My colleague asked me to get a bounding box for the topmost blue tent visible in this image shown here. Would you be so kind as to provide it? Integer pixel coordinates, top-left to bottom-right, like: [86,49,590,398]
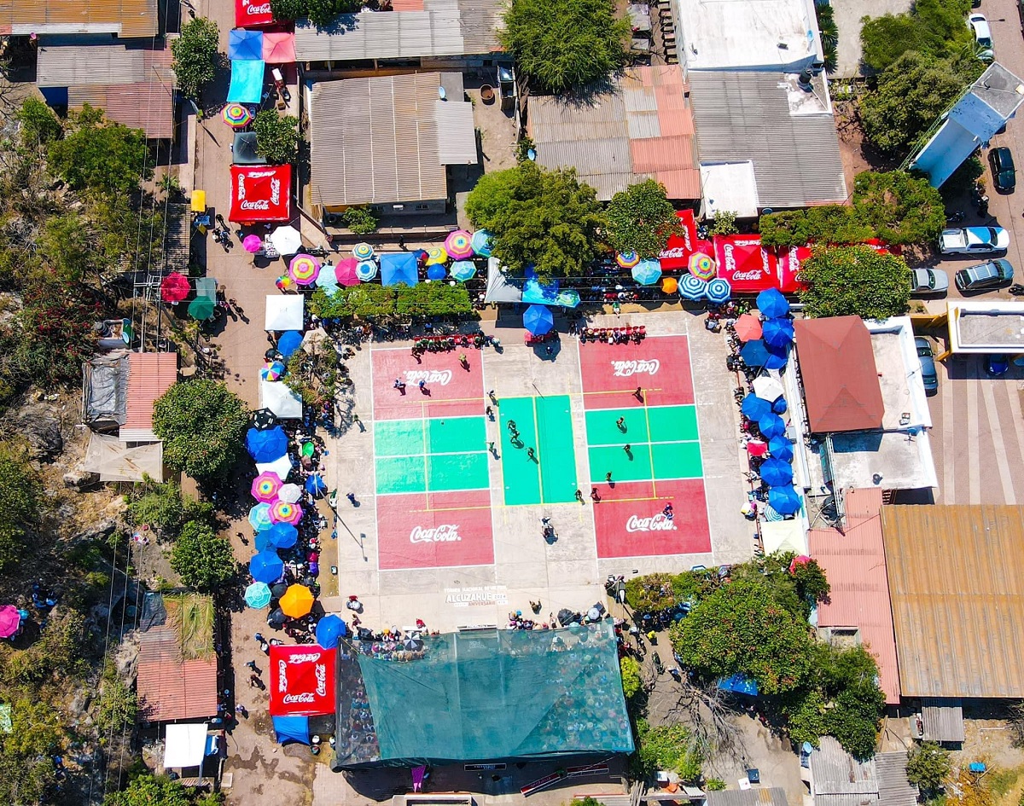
[228,31,268,74]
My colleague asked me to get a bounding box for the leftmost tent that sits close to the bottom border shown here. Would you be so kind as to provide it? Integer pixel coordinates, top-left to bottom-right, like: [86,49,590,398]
[163,720,216,767]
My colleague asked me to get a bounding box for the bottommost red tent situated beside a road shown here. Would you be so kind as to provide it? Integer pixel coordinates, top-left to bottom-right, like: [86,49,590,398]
[270,644,335,716]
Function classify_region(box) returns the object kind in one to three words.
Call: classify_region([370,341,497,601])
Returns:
sports court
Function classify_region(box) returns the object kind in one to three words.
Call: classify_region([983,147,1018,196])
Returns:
car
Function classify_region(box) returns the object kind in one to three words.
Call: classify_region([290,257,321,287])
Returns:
umbrella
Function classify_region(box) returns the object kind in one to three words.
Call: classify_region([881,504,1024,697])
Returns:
house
